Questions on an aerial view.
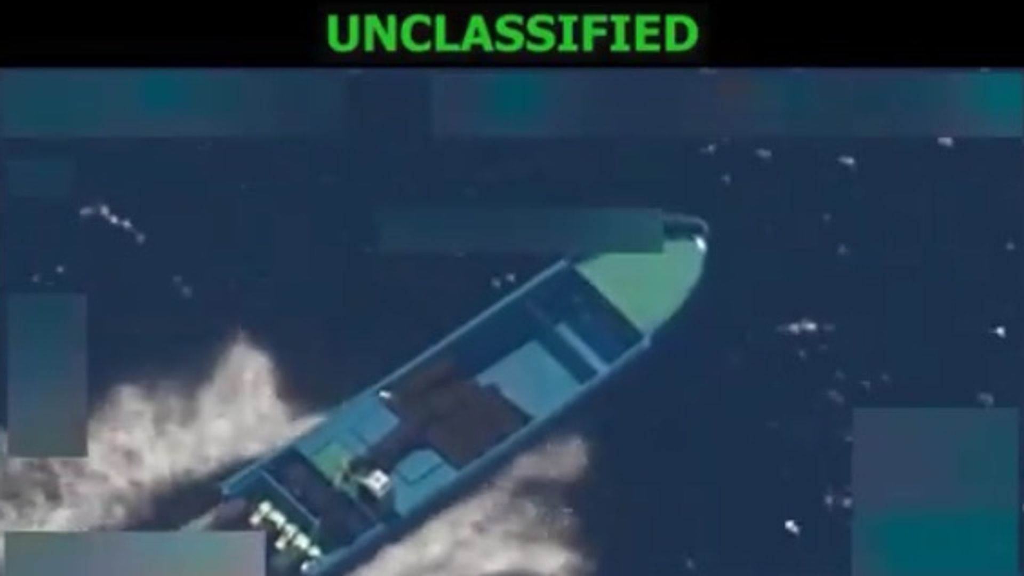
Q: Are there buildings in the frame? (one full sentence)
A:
No, there appears to be no building in this shot.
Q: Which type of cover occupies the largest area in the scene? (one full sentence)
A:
The largest share of the image is taken up by water.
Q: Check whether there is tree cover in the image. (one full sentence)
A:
No, there's no tree cover in this view.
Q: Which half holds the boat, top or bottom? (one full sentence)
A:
The boat sits in the bottom half of the picture.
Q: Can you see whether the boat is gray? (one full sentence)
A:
No, the color of the boat is blue.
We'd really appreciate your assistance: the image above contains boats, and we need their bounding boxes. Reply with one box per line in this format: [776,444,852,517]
[214,218,713,576]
